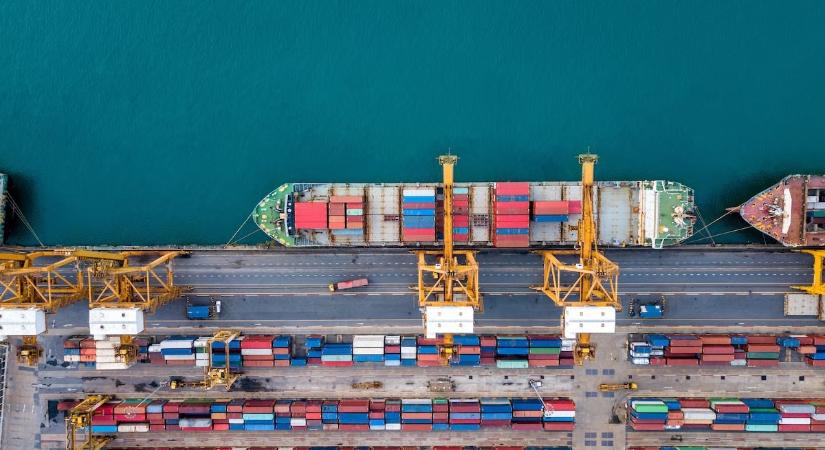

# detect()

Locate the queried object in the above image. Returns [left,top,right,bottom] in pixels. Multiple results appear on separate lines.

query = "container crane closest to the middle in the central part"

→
[407,155,487,365]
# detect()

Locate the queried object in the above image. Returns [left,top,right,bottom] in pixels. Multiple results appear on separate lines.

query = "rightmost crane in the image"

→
[795,251,825,297]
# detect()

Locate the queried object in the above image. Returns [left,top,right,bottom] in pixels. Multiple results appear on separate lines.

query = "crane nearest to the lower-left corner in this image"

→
[66,394,120,450]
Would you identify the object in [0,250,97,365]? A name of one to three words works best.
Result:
container crane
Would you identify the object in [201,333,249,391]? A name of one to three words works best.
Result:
container crane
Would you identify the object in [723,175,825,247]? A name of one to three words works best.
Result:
ship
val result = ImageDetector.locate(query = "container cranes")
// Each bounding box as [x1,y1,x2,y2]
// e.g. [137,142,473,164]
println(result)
[66,394,120,450]
[532,147,624,365]
[407,155,487,365]
[41,248,189,365]
[795,251,825,297]
[201,333,249,391]
[0,250,97,365]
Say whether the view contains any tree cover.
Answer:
No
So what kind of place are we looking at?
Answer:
port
